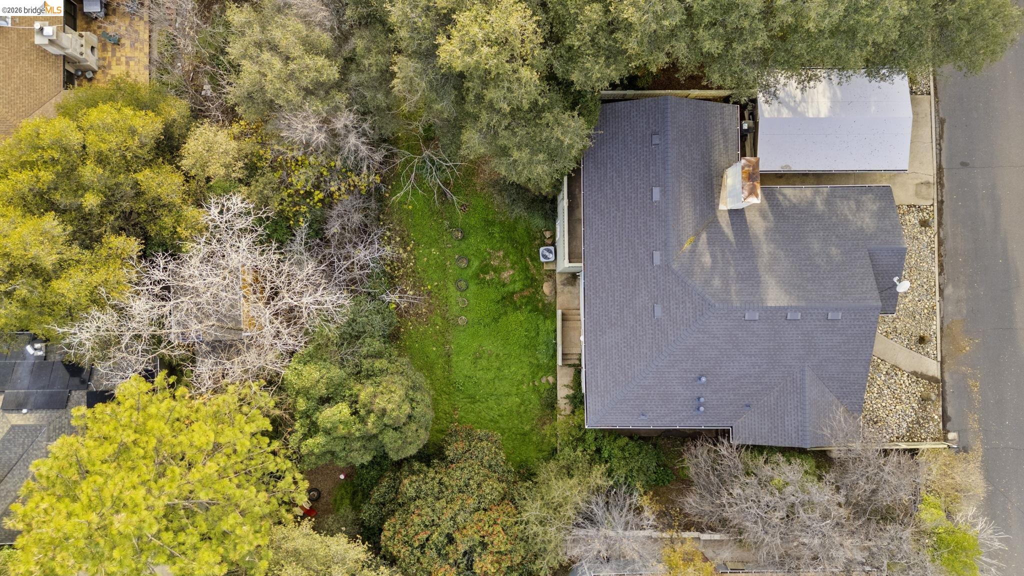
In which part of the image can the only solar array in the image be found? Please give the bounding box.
[0,334,115,409]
